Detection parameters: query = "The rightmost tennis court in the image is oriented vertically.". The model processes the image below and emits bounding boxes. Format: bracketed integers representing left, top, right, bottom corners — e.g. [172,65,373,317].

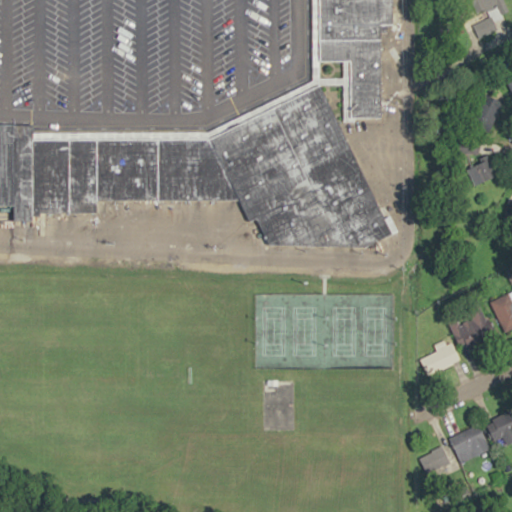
[360,294,394,368]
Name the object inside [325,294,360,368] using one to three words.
tennis court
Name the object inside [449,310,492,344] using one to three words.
house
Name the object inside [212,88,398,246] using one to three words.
building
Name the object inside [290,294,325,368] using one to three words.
tennis court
